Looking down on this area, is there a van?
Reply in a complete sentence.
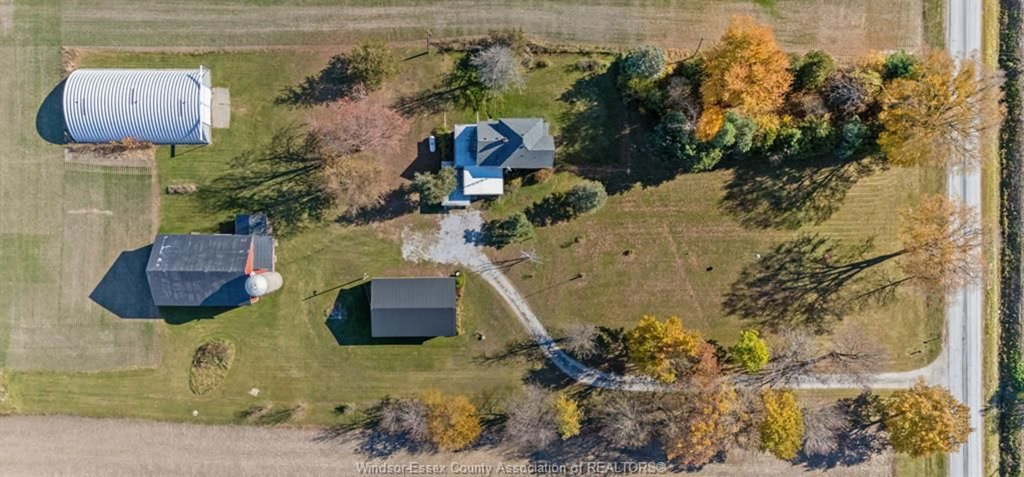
No, I can see no van in this picture.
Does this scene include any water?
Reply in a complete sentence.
No, the scene doesn't show any water.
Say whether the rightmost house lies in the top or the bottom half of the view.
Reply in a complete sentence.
The rightmost house sits in the top half of the picture.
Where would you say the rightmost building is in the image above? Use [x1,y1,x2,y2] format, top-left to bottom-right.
[441,119,555,206]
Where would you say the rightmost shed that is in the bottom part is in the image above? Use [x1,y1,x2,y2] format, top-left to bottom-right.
[369,278,456,338]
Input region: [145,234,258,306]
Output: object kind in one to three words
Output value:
barn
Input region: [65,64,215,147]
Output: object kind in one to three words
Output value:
building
